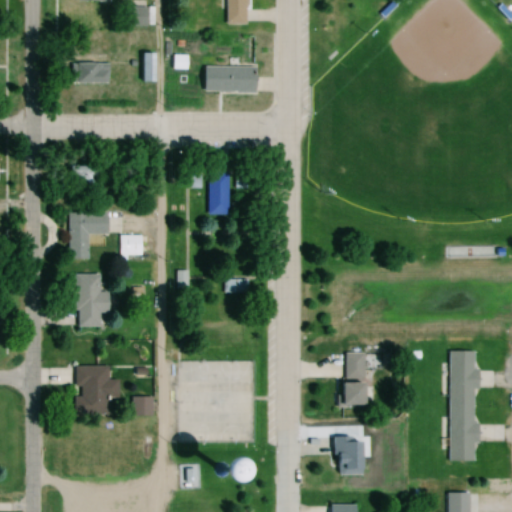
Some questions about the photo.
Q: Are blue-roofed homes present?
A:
Yes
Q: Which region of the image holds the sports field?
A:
top right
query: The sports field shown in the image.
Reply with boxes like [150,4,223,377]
[308,0,512,224]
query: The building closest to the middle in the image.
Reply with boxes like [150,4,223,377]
[223,278,250,294]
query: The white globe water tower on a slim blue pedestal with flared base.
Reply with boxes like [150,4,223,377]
[213,458,258,484]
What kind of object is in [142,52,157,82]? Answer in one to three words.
shed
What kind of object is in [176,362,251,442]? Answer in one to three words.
sports court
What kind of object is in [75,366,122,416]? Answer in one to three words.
house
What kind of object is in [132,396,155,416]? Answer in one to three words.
building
